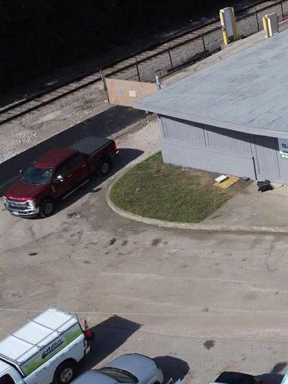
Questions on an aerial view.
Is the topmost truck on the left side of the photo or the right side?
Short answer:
left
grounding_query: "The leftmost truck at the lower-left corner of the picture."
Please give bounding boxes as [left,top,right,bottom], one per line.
[0,302,91,384]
